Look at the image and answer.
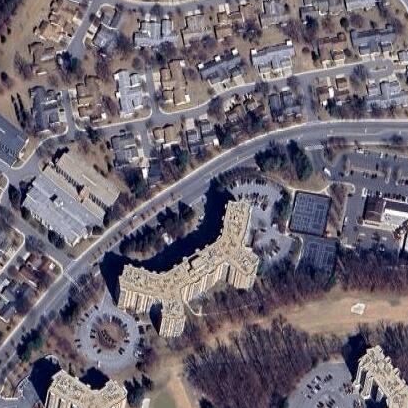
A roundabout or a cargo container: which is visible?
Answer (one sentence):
Looking from above, you can make out a roundabout.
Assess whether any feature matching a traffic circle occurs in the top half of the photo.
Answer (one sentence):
No, no traffic circle is visible in the top half of the photo.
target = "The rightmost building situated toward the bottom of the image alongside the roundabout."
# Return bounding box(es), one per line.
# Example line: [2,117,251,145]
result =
[117,200,260,337]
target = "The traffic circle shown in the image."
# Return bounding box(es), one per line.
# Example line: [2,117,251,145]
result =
[75,303,141,369]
